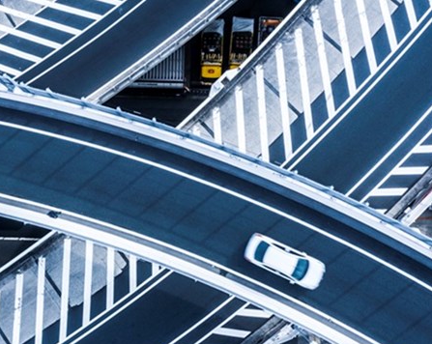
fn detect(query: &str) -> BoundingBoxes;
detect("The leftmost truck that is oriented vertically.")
[200,16,227,82]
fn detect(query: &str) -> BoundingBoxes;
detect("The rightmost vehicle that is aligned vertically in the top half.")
[228,12,255,70]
